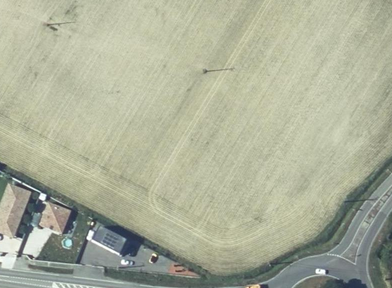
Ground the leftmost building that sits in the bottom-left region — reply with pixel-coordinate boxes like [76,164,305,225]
[0,182,30,238]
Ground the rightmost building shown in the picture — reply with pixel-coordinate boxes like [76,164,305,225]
[90,226,126,256]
